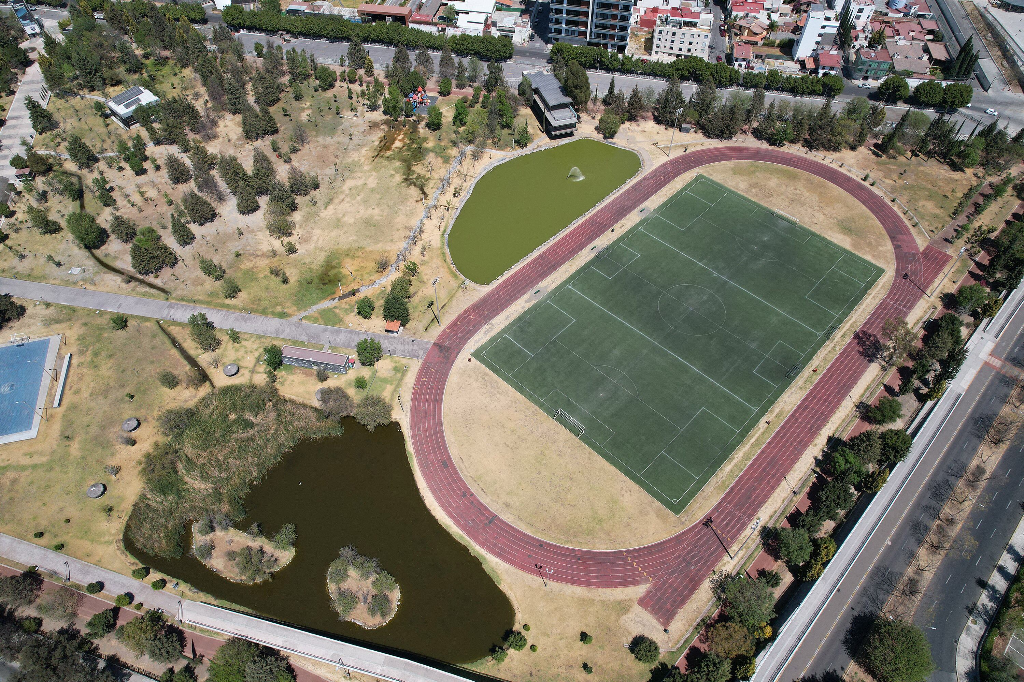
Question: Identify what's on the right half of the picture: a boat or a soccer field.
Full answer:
Looking on the right half of the picture, you will find a soccer field.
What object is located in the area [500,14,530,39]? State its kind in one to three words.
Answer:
house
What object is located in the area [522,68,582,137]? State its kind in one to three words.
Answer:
building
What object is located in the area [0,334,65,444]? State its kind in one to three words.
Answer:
sports court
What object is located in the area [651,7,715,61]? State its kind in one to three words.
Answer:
building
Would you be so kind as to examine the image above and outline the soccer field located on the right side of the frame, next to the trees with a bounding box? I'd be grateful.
[469,173,886,518]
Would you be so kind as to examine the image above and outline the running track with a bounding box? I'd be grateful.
[407,146,953,628]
